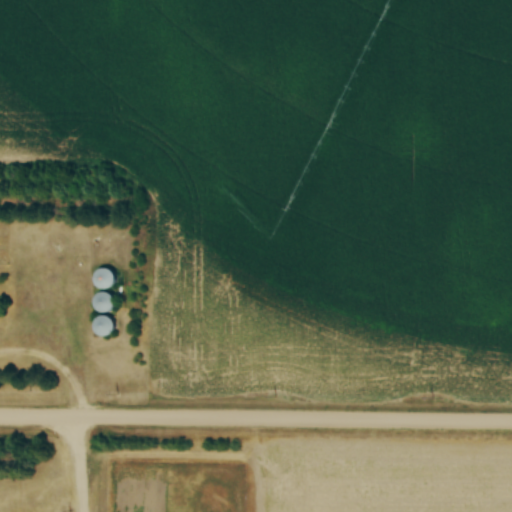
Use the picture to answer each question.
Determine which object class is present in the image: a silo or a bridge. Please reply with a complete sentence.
Visible in the photo is a silo.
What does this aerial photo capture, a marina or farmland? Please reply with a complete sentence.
What you see here is farmland.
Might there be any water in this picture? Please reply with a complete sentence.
No, the scene doesn't show any water.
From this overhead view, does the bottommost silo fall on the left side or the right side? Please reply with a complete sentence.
You can find the bottommost silo on the left side of the picture.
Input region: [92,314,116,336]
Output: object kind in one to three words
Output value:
silo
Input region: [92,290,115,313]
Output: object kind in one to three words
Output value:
silo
